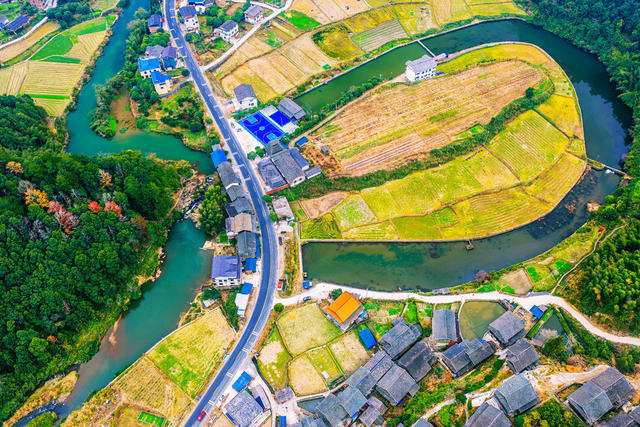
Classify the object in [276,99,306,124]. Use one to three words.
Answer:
shed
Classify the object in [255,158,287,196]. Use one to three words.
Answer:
building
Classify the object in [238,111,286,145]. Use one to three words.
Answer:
basketball court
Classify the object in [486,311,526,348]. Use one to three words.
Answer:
house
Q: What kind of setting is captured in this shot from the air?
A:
residential area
